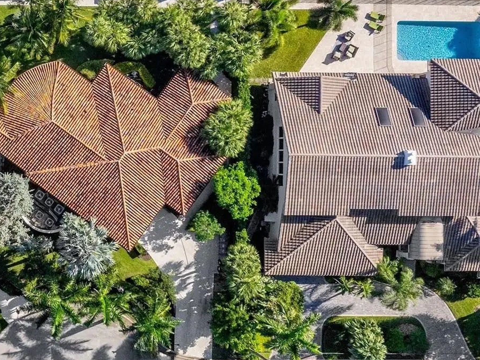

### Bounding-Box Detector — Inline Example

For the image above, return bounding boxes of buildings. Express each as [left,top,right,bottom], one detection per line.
[258,59,480,275]
[0,61,233,251]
